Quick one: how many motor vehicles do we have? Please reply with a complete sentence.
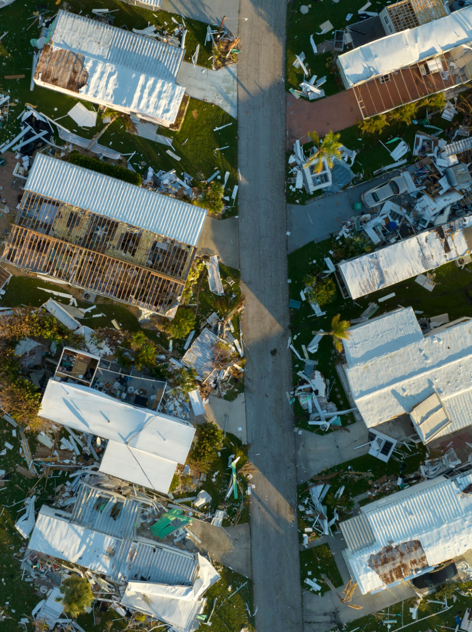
In total, 2 motor vehicles can be seen.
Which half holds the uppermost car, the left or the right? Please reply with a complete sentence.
The uppermost car appears in the right half of the scene.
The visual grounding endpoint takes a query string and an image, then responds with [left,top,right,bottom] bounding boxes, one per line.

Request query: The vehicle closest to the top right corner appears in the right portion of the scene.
[360,174,406,207]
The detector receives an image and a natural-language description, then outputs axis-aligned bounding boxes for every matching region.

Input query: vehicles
[360,174,406,207]
[411,563,464,595]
